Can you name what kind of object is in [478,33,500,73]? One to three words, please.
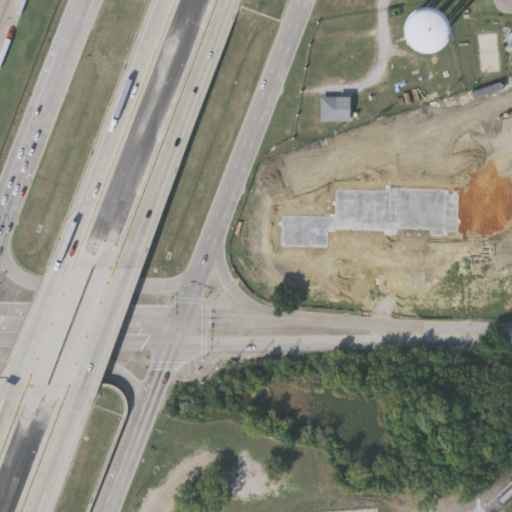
sports court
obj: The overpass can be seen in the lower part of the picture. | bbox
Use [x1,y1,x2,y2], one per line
[0,266,144,385]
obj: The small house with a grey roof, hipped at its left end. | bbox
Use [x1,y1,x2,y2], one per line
[321,98,352,122]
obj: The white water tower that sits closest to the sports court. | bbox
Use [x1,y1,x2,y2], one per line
[405,7,452,54]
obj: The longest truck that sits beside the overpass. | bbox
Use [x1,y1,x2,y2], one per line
[54,222,76,272]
